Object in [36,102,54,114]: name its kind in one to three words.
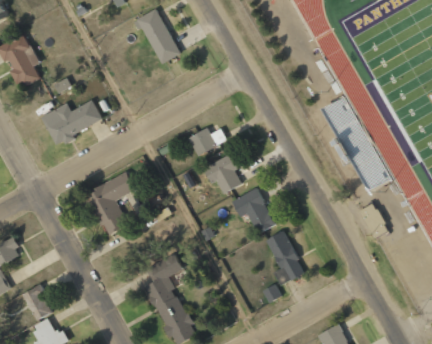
vehicle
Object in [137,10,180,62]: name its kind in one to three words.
house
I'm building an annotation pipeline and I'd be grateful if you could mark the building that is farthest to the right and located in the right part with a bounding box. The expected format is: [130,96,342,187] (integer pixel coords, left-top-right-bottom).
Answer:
[359,204,390,242]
